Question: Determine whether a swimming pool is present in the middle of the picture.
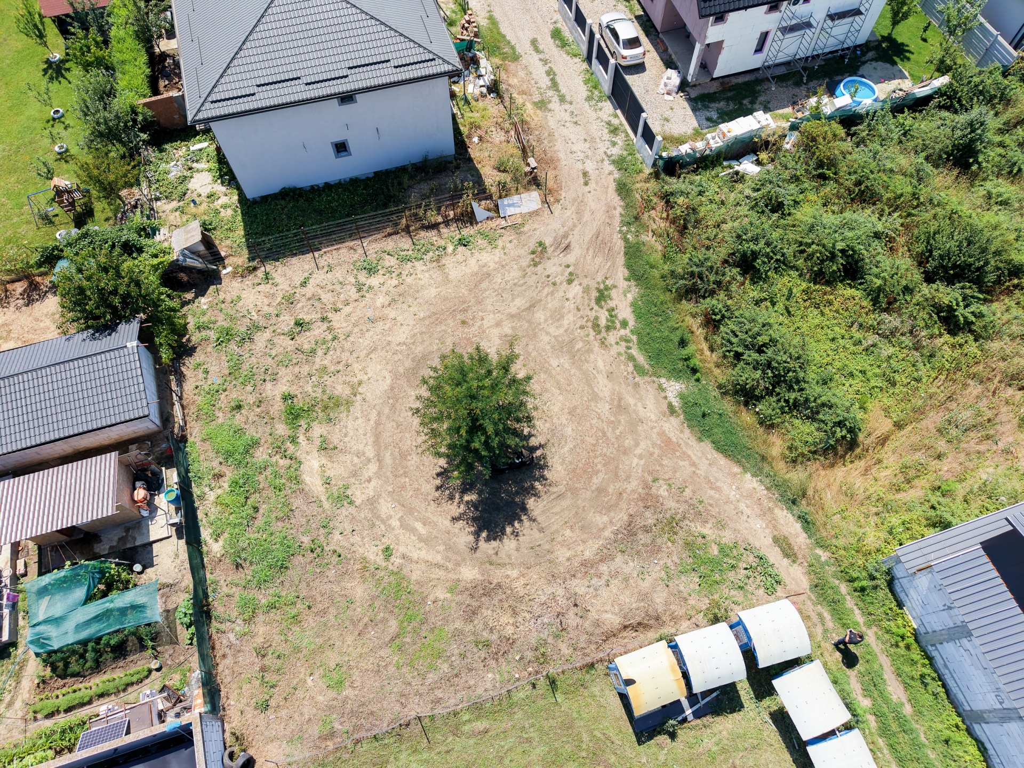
No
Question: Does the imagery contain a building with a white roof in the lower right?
Yes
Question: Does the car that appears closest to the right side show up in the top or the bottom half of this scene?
top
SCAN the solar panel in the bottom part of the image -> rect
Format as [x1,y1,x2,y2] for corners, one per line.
[77,719,128,753]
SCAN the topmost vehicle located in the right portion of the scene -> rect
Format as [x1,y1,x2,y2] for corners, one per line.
[597,10,648,67]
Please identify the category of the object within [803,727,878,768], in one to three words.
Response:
building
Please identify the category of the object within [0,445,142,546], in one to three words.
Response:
shed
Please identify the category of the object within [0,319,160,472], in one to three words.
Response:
shed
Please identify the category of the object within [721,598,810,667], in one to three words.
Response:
building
